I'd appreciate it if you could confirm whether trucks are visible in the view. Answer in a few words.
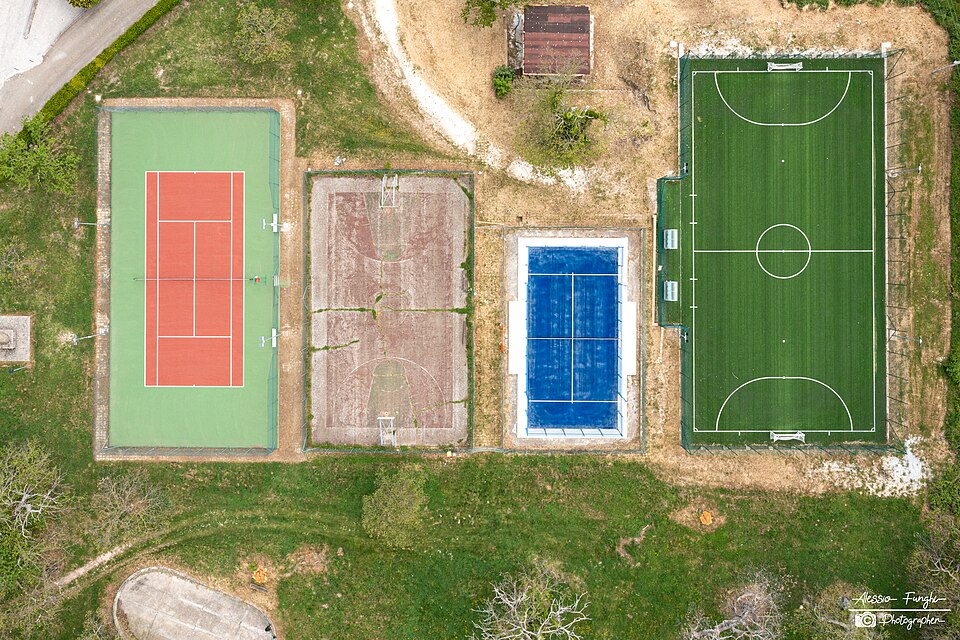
No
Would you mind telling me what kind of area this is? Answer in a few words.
sports ground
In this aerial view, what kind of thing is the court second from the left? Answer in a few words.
basketball court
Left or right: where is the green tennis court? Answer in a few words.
left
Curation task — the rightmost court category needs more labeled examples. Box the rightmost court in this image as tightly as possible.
[506,231,639,448]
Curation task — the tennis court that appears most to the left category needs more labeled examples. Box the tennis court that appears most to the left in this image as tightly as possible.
[109,111,279,448]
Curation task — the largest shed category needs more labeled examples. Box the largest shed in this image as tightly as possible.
[525,6,590,78]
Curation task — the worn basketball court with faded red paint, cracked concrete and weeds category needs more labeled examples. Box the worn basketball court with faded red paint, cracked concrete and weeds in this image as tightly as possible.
[308,176,472,444]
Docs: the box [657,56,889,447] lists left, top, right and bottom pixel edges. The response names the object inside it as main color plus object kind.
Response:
green soccer field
